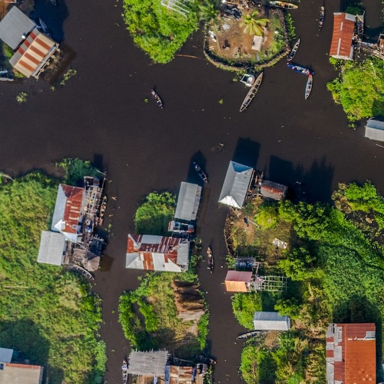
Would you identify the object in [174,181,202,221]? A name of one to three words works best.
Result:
house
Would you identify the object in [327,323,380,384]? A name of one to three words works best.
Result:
house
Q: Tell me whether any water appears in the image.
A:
Yes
